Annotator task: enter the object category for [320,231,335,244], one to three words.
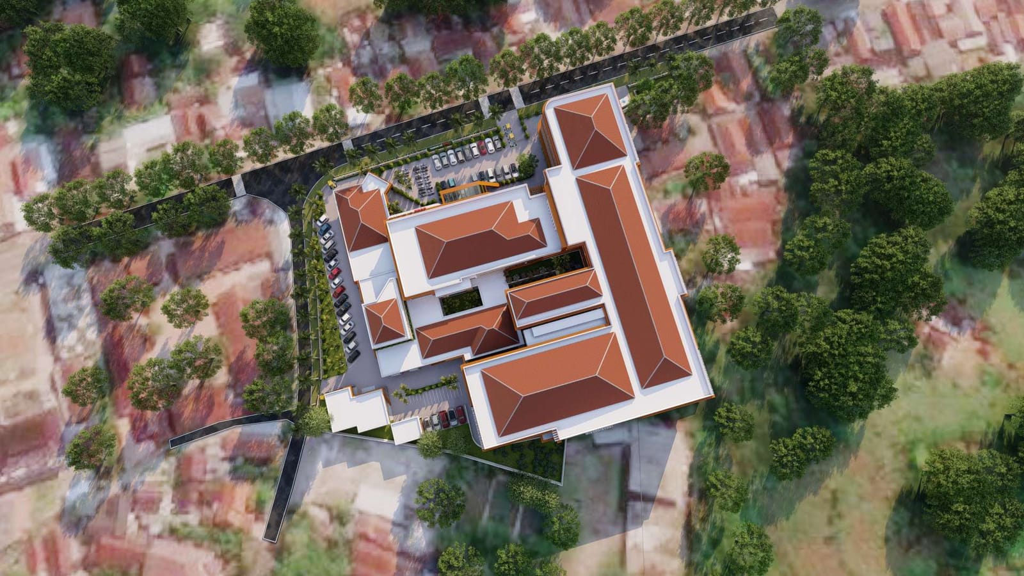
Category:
vehicle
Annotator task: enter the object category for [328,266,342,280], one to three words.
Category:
car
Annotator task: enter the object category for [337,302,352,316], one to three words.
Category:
car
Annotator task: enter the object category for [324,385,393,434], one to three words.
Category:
building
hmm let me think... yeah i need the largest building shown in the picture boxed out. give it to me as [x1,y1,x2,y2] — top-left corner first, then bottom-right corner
[461,83,715,452]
